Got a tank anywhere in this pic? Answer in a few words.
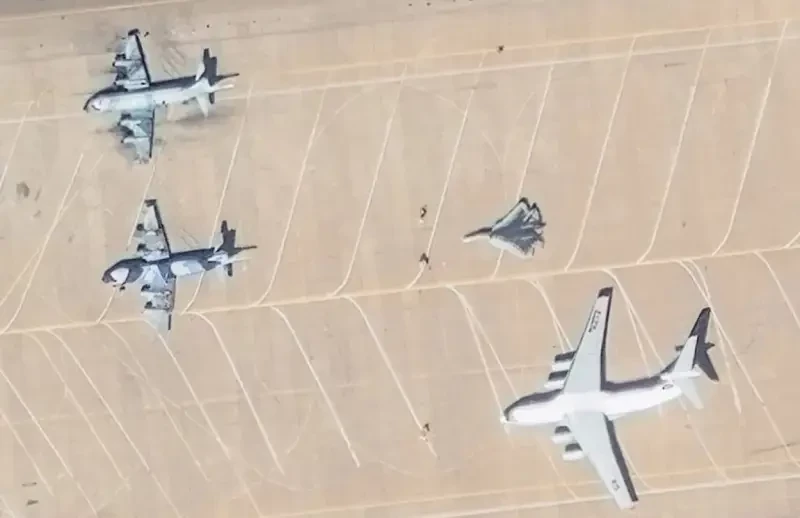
No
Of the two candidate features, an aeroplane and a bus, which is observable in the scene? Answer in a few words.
aeroplane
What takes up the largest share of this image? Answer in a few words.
paved ground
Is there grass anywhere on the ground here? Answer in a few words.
No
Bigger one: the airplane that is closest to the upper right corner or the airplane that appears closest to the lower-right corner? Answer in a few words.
the airplane that appears closest to the lower-right corner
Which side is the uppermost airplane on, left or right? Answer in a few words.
left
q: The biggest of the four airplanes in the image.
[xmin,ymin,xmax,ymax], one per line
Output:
[502,295,706,510]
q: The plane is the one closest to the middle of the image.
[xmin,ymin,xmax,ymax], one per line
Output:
[462,205,543,259]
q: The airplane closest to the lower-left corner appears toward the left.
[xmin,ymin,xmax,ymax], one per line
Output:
[101,206,252,335]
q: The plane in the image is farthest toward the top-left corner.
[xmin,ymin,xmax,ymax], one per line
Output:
[84,35,234,163]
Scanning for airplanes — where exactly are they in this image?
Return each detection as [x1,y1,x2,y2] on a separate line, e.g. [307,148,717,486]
[502,295,706,510]
[101,206,252,335]
[84,35,234,163]
[462,205,543,259]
